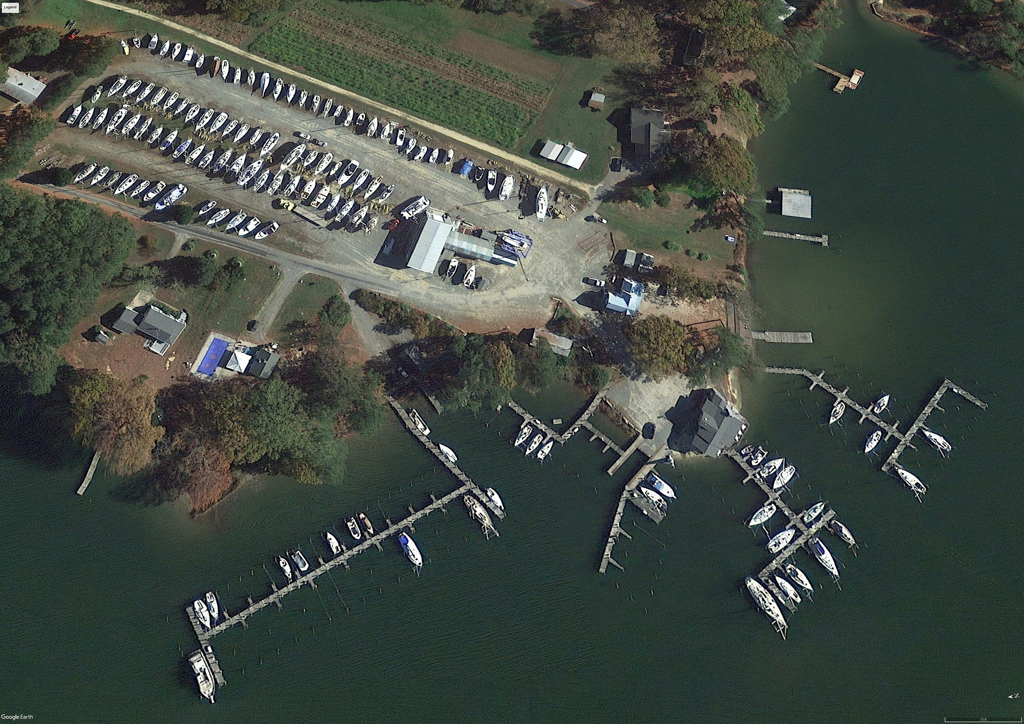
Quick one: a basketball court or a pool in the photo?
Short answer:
pool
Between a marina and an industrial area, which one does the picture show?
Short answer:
marina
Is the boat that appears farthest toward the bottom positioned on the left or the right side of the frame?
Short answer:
left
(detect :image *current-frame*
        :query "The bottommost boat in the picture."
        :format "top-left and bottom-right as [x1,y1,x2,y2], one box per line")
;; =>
[187,648,215,704]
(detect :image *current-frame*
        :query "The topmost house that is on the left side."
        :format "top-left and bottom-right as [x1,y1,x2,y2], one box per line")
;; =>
[0,69,47,104]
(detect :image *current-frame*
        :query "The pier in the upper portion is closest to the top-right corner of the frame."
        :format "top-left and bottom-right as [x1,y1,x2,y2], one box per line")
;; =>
[812,62,852,93]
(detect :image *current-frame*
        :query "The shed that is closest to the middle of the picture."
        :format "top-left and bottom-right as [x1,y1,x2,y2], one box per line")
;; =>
[535,327,572,355]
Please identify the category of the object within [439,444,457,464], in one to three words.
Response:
boat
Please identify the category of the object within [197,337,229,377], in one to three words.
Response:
swimming pool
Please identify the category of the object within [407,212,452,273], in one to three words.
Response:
hangar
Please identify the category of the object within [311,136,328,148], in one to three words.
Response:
vehicle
